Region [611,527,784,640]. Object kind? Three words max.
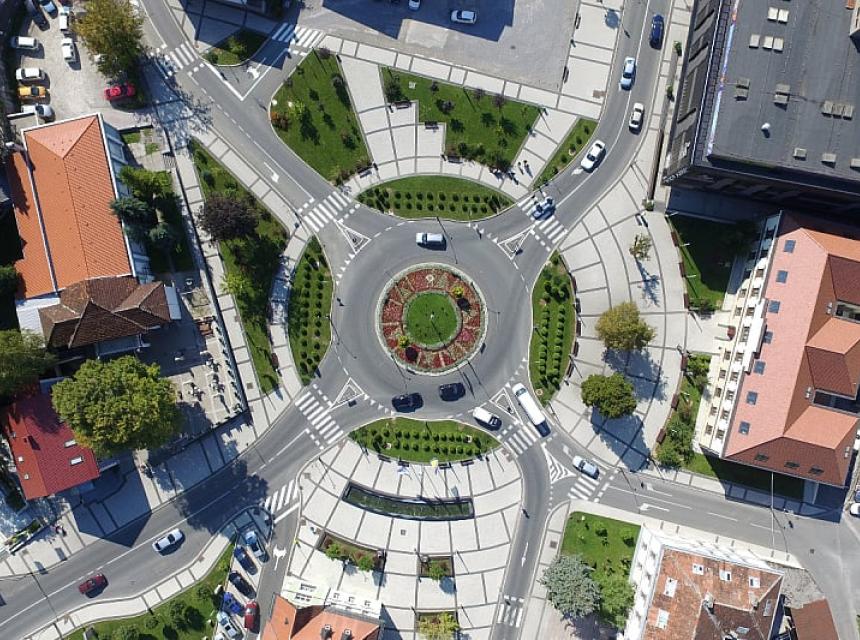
house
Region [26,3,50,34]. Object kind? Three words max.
car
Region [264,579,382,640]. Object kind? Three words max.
house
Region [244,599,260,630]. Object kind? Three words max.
car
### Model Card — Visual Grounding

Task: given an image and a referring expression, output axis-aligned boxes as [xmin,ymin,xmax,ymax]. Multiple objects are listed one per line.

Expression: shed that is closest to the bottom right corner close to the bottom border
[785,596,839,640]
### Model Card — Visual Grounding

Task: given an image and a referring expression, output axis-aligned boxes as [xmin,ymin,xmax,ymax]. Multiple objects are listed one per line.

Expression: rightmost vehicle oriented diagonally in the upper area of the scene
[580,139,605,170]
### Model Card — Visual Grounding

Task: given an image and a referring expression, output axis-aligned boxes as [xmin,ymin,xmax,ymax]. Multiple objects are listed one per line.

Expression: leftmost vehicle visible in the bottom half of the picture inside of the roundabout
[392,394,423,409]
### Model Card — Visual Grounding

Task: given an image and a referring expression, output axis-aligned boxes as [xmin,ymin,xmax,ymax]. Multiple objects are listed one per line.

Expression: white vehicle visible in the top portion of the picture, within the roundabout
[417,233,443,246]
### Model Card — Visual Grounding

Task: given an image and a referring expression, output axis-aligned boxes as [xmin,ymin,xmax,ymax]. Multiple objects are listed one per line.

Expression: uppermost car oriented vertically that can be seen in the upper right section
[648,15,665,49]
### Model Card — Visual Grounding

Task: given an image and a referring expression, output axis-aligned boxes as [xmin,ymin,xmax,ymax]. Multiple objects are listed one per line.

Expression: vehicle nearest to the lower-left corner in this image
[79,572,109,595]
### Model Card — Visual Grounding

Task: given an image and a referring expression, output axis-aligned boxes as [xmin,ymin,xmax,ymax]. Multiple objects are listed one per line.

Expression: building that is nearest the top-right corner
[663,0,860,213]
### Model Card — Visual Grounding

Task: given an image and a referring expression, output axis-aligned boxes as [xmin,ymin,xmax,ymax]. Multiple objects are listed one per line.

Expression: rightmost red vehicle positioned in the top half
[106,84,135,101]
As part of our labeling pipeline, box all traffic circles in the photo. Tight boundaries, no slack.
[333,221,530,418]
